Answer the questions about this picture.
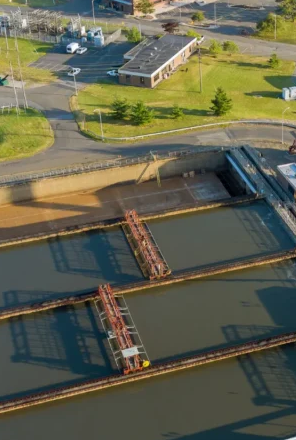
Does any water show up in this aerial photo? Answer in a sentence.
Yes, there is water in the image.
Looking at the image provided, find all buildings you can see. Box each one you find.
[276,163,296,211]
[110,32,200,87]
[76,0,140,15]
